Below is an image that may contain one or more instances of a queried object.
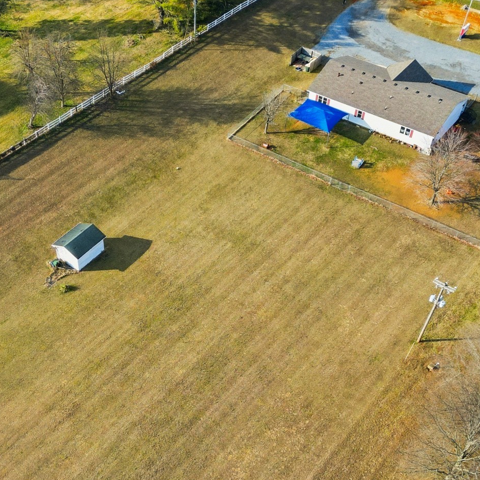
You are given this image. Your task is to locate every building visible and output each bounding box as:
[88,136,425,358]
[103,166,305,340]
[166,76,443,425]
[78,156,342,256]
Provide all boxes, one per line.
[306,55,475,154]
[52,224,106,270]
